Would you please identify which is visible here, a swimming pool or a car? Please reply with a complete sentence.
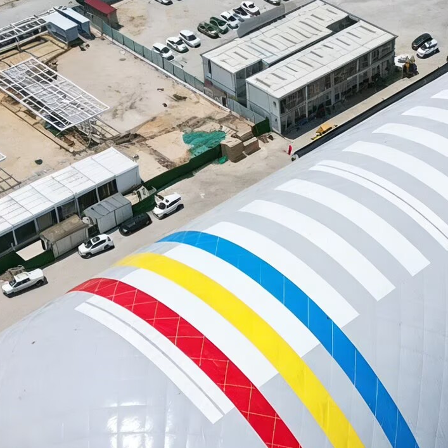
There is a car in the scene.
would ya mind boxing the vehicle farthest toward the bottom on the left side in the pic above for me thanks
[2,266,45,296]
